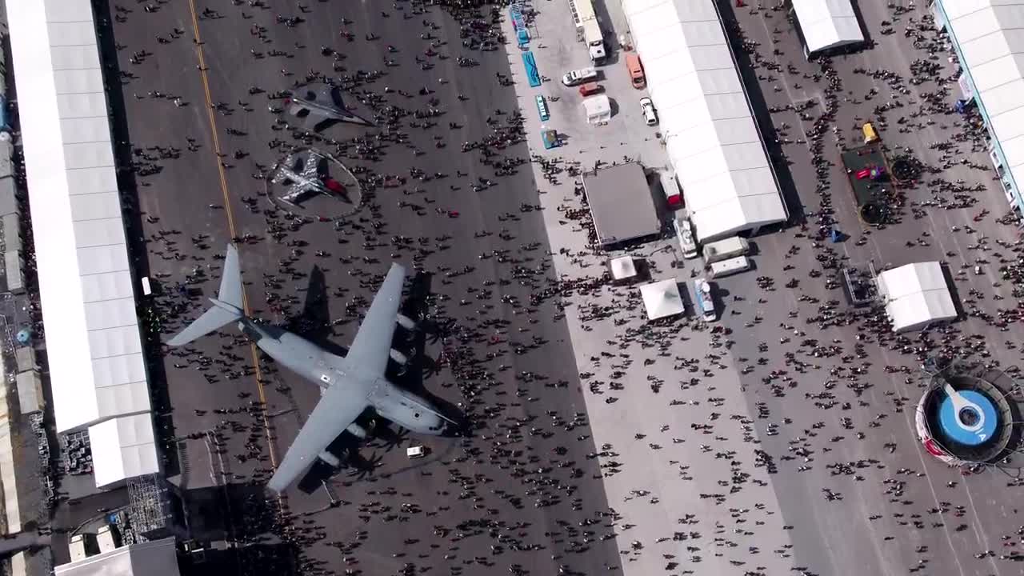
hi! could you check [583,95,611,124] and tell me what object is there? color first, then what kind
white gazebo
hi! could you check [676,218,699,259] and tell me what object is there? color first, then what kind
white truck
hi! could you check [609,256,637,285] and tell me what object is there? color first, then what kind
white tent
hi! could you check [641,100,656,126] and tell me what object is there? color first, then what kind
white car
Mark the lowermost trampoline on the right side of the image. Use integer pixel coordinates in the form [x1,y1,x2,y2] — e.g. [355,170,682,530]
[862,202,885,224]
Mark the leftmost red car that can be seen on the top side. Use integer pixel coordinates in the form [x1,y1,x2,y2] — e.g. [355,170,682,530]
[579,82,600,97]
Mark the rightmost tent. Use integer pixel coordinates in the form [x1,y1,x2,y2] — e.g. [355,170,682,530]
[924,0,1024,250]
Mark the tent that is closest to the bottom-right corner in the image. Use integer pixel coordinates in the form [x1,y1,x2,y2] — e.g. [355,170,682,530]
[876,261,957,335]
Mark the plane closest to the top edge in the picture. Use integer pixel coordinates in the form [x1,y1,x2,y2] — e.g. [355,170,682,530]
[291,83,369,132]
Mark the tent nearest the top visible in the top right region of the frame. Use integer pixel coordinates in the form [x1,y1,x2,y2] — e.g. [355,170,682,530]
[786,0,865,60]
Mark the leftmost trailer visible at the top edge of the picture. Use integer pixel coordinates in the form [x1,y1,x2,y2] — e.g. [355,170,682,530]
[503,0,531,52]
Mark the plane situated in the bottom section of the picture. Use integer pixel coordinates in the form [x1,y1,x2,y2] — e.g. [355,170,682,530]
[167,245,461,491]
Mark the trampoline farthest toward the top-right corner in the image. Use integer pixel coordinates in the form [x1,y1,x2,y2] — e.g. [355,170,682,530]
[892,158,916,181]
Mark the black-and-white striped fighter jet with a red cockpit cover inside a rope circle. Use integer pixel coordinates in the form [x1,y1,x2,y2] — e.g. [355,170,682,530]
[271,154,353,207]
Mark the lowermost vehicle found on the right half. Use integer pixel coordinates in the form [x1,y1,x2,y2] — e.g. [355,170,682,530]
[691,279,716,324]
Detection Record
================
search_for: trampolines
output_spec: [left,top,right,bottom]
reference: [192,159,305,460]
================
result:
[862,202,885,224]
[892,158,916,181]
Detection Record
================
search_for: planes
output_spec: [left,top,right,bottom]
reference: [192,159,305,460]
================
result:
[271,154,353,207]
[167,245,461,491]
[291,83,369,132]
